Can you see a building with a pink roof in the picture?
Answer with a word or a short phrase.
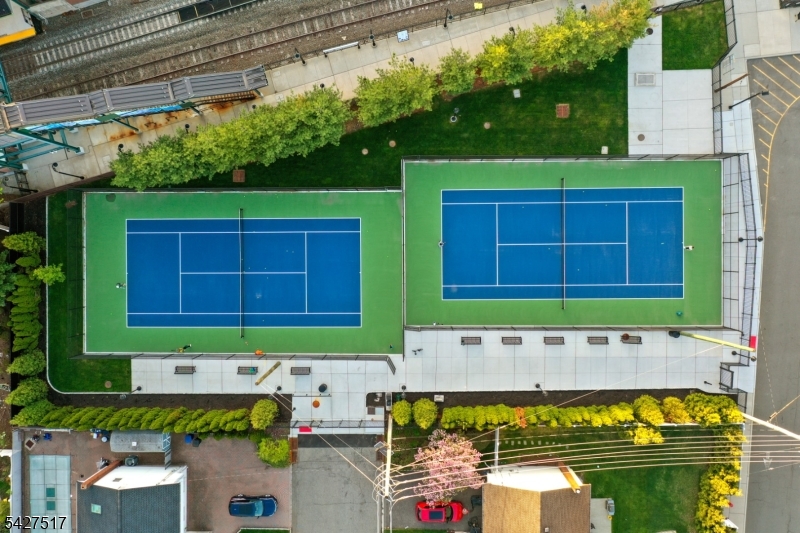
No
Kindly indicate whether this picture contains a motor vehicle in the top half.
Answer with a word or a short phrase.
No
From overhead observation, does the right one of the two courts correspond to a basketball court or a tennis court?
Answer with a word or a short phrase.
tennis court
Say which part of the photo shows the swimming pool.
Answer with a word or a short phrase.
bottom left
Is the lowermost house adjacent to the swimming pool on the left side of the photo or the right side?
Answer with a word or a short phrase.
left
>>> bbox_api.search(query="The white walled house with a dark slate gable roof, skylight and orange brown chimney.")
[77,461,188,533]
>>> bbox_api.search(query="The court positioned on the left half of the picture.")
[86,191,404,353]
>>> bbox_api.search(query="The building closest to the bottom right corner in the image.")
[482,462,591,533]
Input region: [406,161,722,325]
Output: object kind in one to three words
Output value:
tennis court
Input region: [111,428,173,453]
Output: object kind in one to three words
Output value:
shed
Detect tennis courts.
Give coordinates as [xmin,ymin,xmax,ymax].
[406,161,722,325]
[86,191,404,353]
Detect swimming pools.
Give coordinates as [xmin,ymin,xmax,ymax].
[24,452,76,533]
